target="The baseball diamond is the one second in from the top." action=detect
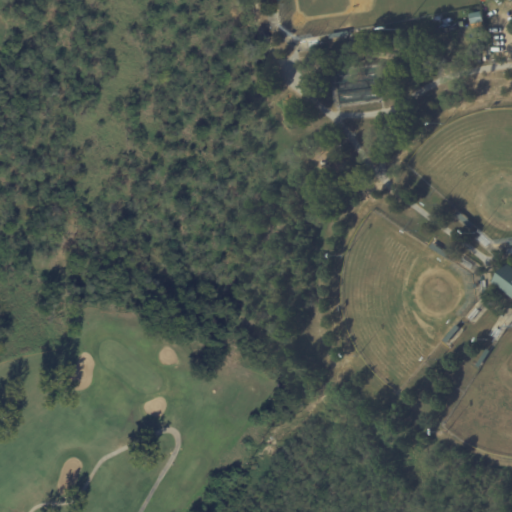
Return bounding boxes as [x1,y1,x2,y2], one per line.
[408,108,512,244]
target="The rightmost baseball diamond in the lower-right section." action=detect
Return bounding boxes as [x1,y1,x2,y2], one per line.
[444,323,512,458]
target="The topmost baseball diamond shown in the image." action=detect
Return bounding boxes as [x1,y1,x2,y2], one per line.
[280,0,482,36]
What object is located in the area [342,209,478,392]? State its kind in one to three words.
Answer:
baseball field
